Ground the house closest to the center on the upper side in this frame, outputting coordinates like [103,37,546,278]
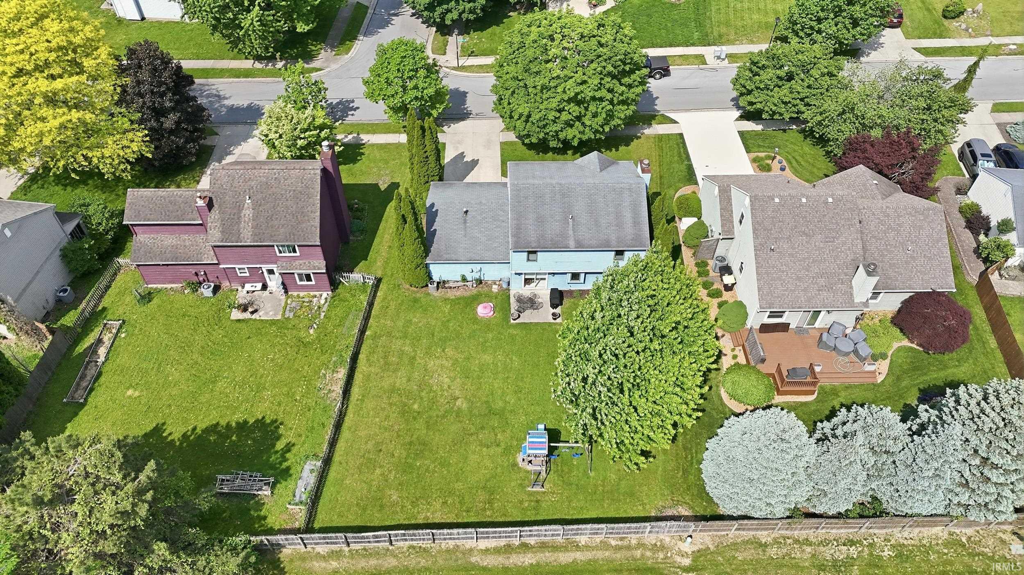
[423,148,653,295]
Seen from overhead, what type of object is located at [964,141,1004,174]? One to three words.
car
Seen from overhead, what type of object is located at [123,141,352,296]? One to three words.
house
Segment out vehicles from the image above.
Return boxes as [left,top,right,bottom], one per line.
[996,146,1024,172]
[883,0,905,21]
[964,141,1004,174]
[631,54,675,78]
